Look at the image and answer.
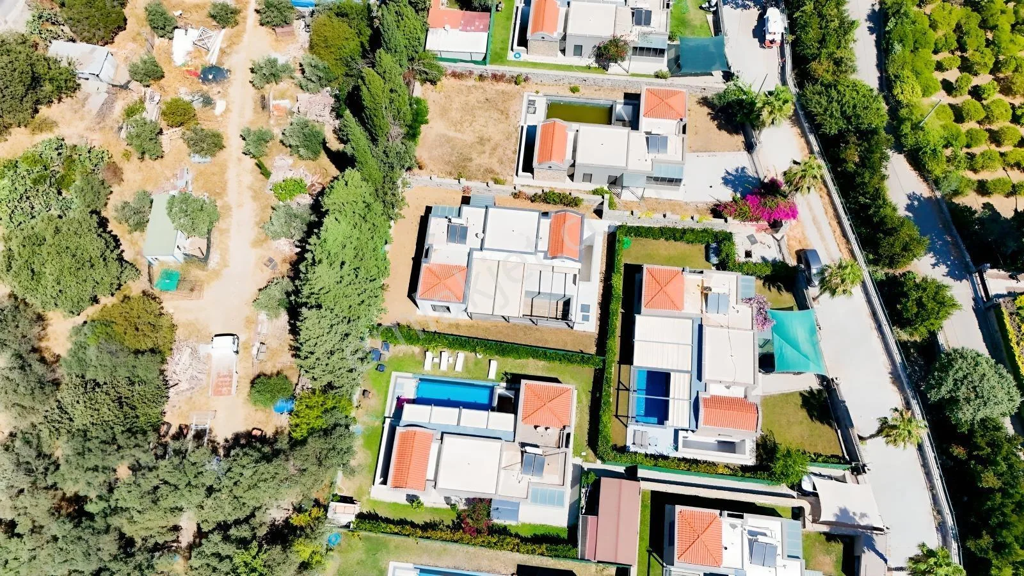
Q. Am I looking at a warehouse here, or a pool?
pool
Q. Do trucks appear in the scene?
Yes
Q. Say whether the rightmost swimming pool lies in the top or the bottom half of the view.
bottom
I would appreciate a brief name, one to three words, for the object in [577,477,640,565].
shed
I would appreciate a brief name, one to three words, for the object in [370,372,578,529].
house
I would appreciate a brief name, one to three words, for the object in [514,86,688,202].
house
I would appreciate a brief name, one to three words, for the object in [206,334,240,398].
truck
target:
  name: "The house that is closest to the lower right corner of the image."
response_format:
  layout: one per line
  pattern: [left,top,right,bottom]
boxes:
[660,503,802,576]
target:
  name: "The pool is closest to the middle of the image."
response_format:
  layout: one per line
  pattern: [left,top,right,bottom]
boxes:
[411,374,497,414]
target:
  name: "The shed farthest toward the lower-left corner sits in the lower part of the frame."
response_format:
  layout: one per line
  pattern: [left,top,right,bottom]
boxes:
[327,502,362,526]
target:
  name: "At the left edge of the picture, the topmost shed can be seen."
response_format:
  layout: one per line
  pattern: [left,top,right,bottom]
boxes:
[49,40,117,94]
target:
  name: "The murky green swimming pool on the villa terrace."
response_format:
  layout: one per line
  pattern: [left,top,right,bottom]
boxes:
[544,100,616,126]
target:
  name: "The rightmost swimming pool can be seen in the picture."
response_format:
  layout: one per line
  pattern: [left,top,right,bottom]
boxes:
[630,366,685,430]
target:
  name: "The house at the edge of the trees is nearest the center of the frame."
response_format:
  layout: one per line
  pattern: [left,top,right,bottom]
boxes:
[417,194,606,337]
